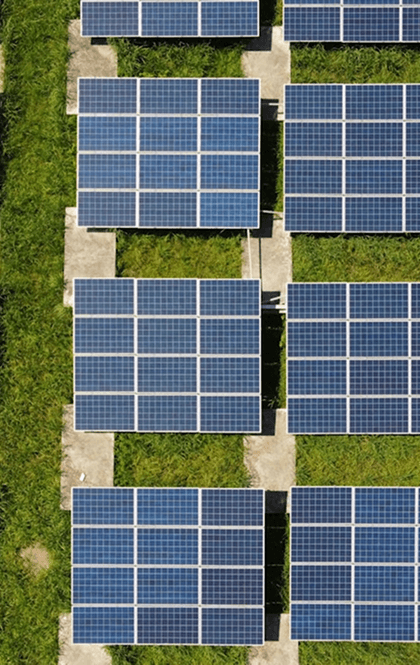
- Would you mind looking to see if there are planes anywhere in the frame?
No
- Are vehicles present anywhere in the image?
No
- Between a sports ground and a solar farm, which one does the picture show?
solar farm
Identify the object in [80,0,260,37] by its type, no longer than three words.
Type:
solar array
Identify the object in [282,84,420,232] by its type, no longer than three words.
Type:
solar array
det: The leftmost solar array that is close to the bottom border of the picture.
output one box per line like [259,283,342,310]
[70,487,266,646]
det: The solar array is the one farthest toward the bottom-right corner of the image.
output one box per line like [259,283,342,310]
[289,486,420,642]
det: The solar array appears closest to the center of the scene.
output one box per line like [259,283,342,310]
[73,278,262,432]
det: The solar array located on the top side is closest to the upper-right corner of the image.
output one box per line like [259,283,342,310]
[282,0,420,42]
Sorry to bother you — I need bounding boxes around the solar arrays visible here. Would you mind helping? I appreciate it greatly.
[285,282,420,434]
[282,84,420,232]
[80,0,260,37]
[289,486,420,642]
[70,487,266,646]
[73,278,262,432]
[282,0,420,42]
[76,77,262,228]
